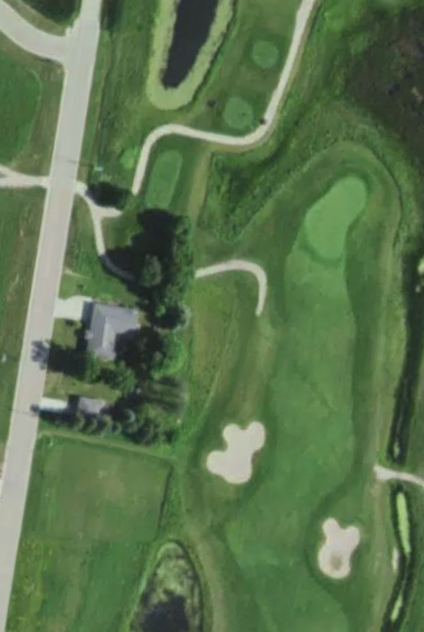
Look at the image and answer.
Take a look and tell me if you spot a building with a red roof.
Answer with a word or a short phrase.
No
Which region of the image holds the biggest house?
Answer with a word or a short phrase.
left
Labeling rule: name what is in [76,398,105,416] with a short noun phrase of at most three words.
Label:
building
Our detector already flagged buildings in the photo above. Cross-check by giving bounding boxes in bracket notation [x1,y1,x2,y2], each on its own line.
[85,299,144,360]
[76,398,105,416]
